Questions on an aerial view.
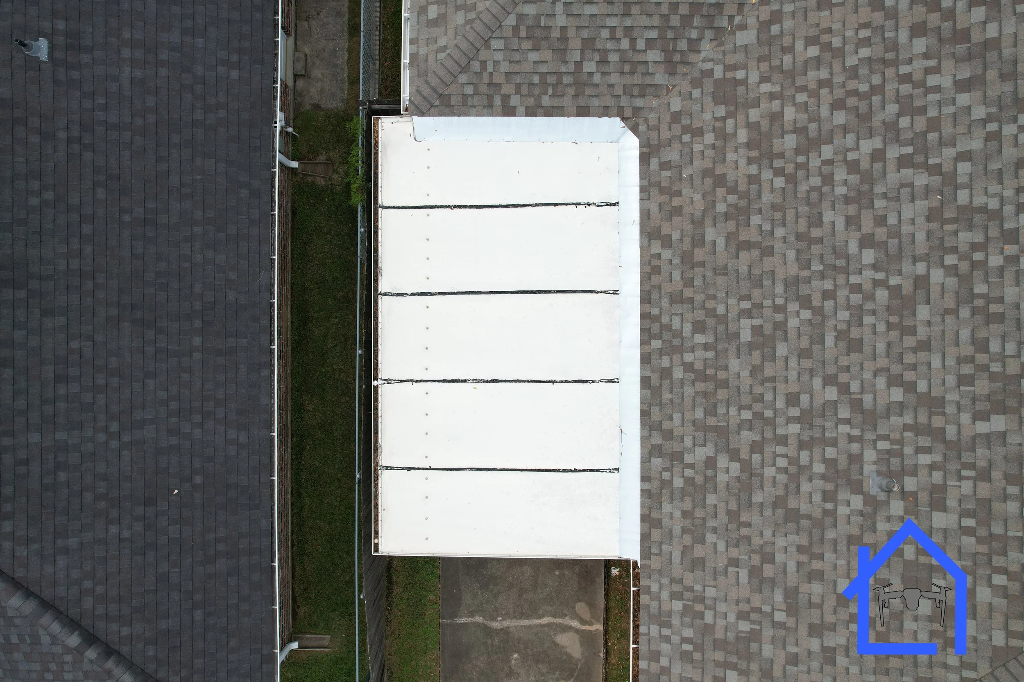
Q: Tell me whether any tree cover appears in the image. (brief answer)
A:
No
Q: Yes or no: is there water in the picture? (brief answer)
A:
No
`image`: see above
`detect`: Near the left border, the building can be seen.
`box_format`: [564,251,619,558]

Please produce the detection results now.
[0,0,300,682]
